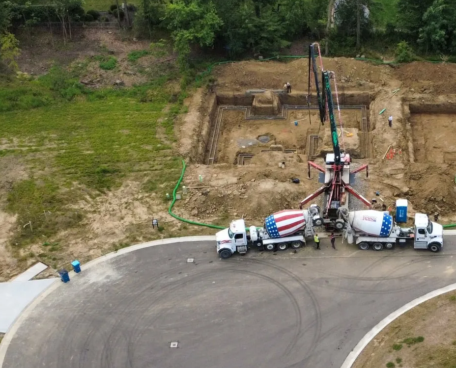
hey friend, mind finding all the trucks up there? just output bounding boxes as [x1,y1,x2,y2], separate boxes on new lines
[299,43,374,223]
[336,207,446,253]
[213,205,322,259]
